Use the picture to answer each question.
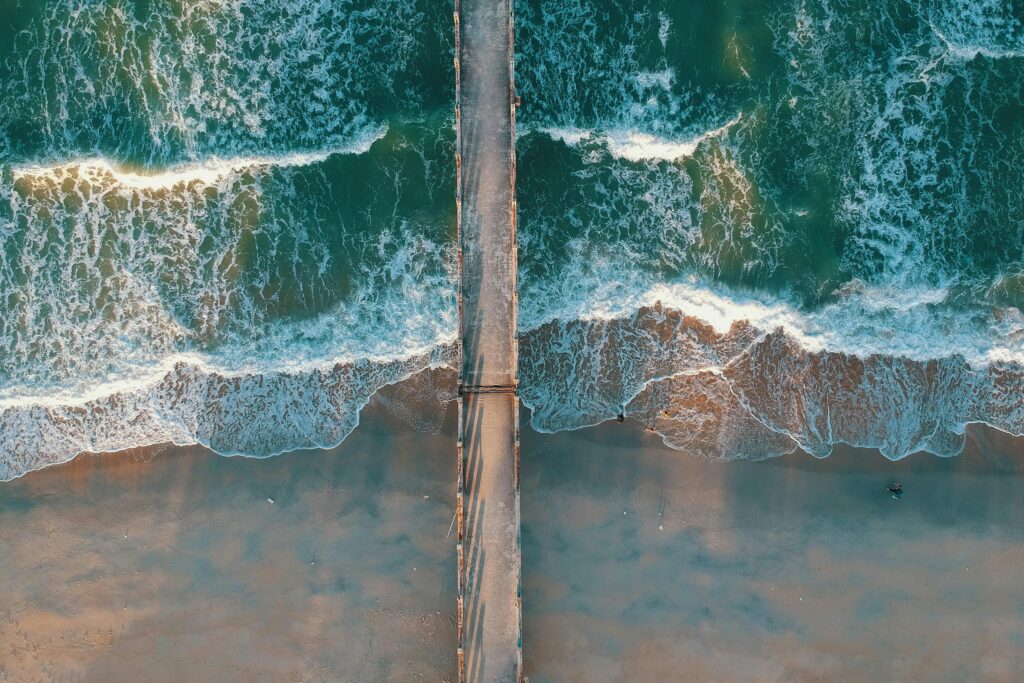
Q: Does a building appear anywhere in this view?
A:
No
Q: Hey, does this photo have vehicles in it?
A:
No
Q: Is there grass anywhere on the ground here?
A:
No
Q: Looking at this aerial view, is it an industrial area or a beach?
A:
beach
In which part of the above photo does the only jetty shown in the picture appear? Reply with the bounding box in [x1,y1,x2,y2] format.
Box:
[455,0,529,683]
